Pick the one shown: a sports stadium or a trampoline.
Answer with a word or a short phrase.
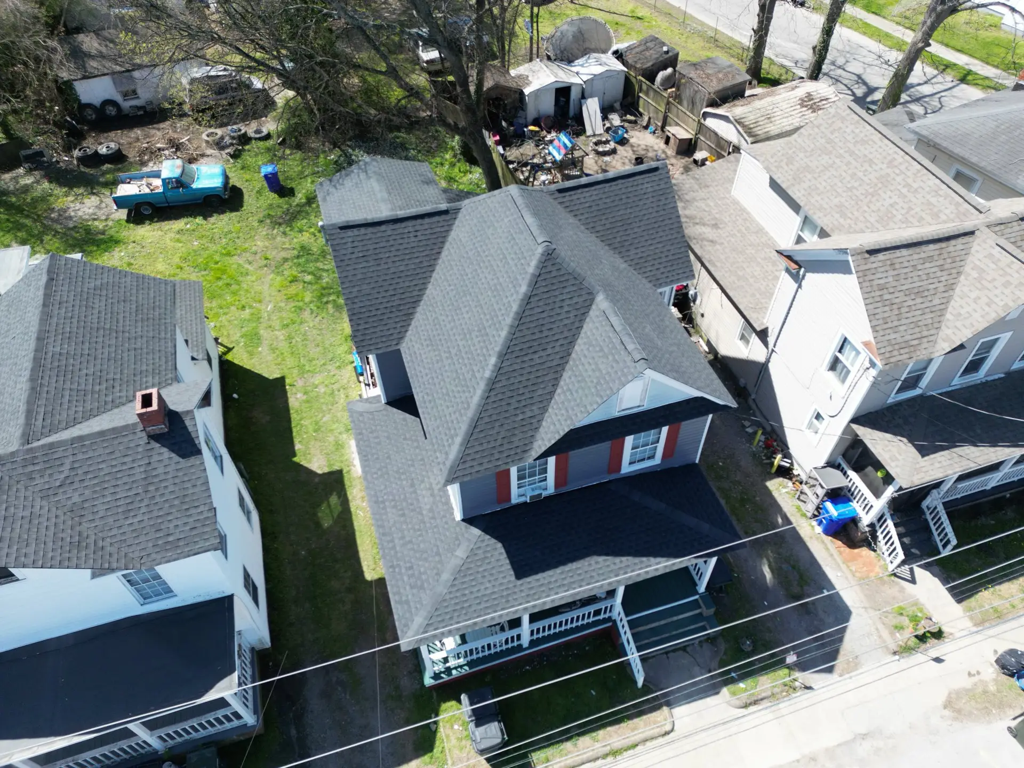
trampoline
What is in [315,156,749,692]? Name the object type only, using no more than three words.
house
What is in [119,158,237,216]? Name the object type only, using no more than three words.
truck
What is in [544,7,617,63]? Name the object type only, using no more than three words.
trampoline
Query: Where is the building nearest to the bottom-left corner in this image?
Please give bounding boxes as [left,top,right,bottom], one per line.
[0,246,272,768]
